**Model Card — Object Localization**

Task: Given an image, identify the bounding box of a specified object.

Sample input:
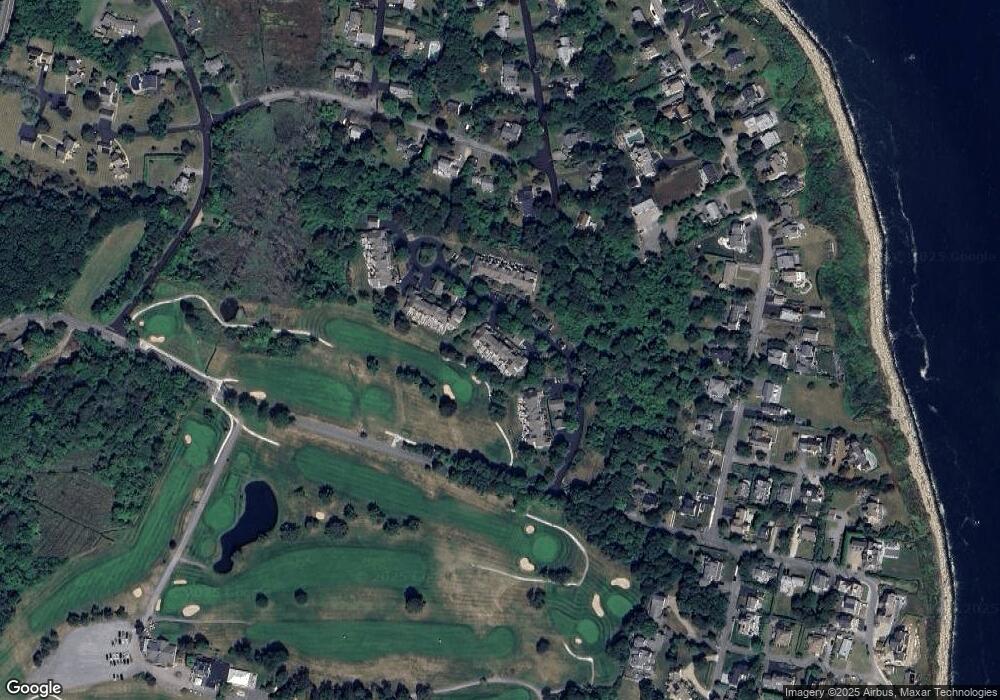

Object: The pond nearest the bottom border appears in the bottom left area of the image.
[214,481,278,573]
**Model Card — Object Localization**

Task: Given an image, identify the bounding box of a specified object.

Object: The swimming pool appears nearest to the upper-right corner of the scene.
[625,128,644,145]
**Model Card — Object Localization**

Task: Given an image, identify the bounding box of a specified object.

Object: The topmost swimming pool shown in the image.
[428,40,440,60]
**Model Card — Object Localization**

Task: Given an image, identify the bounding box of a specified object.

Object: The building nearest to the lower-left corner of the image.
[142,636,185,668]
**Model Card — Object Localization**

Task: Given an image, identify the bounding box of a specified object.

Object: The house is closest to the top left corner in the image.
[25,45,53,67]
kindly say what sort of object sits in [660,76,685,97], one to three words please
house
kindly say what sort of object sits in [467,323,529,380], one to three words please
building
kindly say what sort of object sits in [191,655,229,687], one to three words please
building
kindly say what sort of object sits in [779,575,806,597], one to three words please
house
